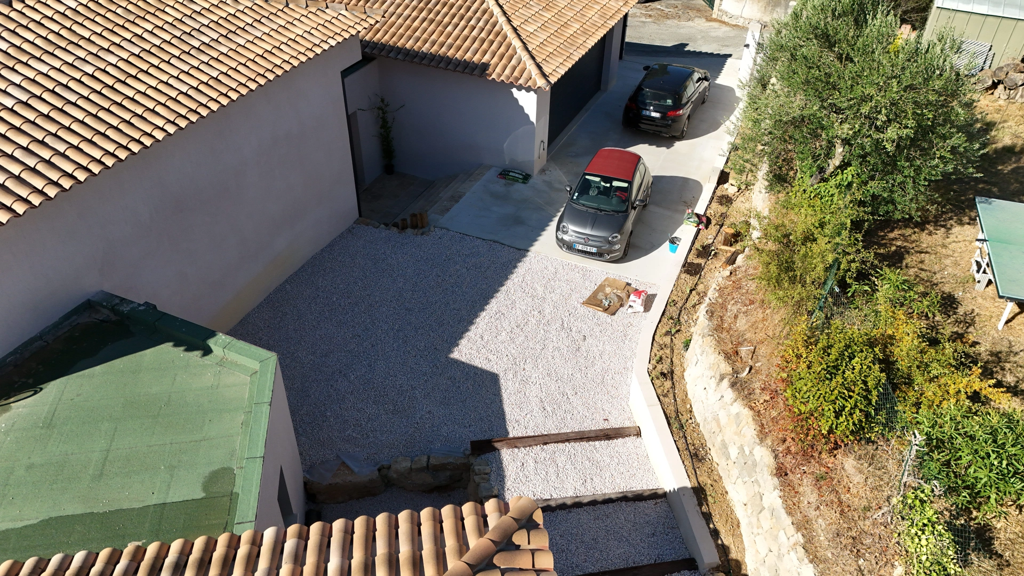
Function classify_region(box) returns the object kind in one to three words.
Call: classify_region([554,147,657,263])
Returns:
car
